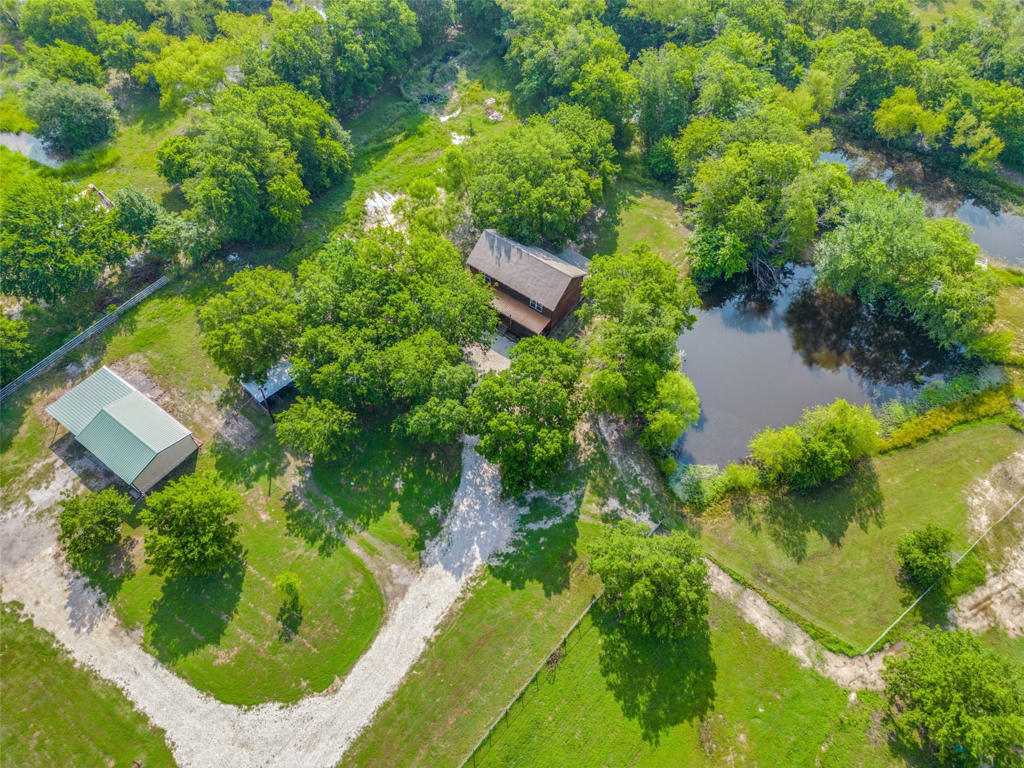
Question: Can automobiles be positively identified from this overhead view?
No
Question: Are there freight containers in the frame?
No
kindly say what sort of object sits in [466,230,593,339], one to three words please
house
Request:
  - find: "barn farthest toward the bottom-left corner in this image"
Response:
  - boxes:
[44,366,198,496]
